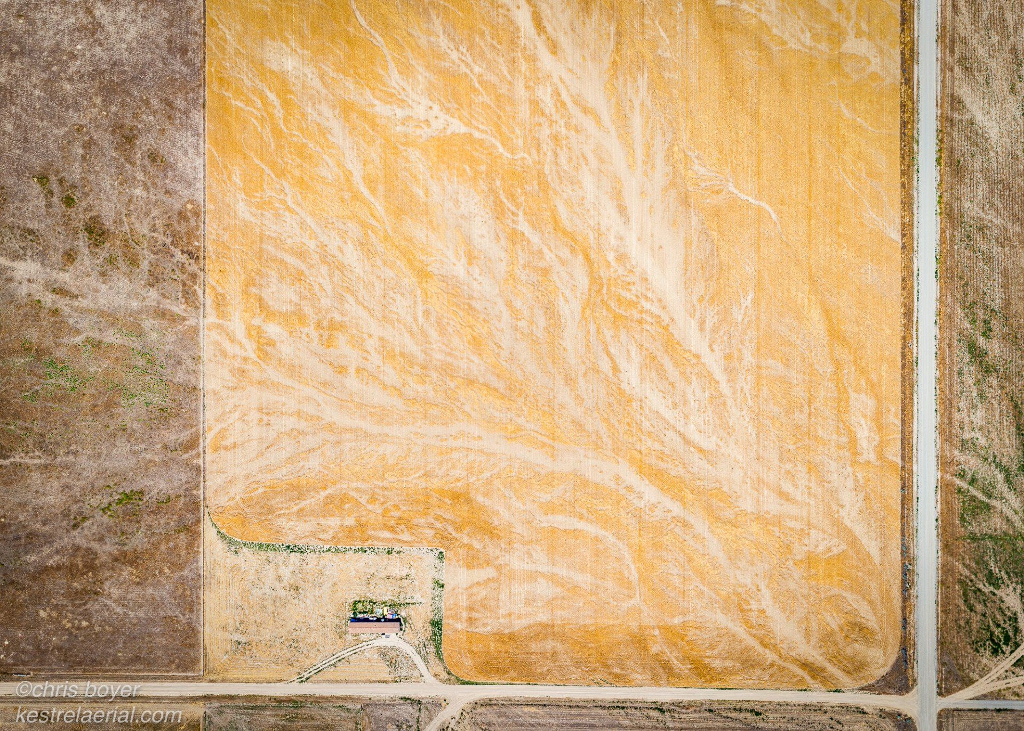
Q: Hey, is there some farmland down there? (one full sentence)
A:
Yes, there's farmland in this view.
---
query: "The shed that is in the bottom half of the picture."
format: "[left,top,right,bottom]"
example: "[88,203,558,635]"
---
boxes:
[348,621,401,634]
